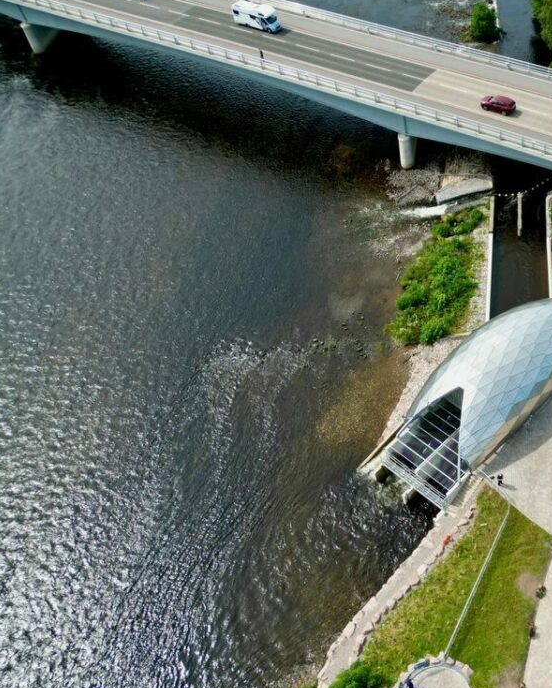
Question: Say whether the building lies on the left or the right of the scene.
right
